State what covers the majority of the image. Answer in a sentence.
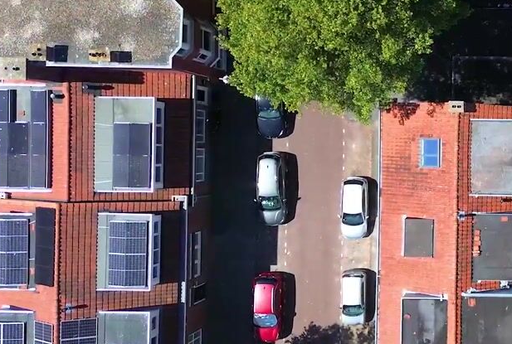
Most of the picture is covered by buildings.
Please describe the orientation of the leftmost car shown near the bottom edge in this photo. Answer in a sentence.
The leftmost car shown near the bottom edge runs from top to bottom in the image.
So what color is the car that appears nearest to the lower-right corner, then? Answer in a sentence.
The car that appears nearest to the lower-right corner is white.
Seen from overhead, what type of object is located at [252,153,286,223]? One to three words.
car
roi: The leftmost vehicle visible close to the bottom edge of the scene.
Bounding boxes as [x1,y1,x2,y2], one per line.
[249,273,284,340]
